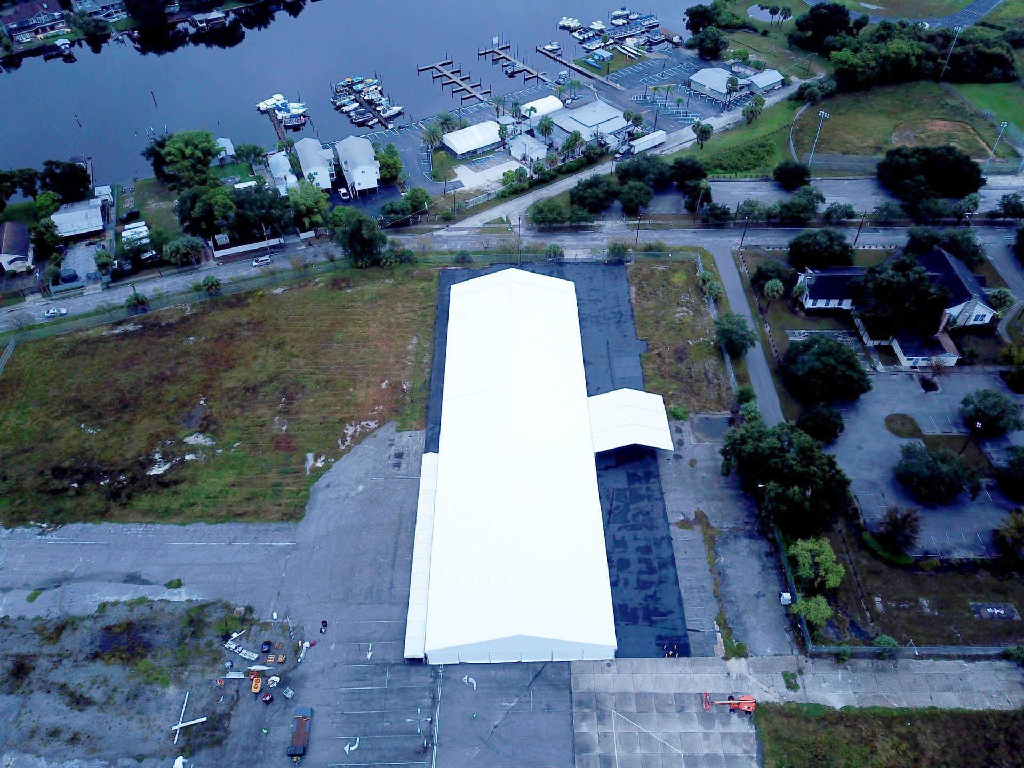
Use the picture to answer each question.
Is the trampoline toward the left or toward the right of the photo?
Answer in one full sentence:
The trampoline is on the left side of the image.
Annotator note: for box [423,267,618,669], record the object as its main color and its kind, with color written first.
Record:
white tent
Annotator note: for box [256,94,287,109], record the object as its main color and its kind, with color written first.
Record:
white boat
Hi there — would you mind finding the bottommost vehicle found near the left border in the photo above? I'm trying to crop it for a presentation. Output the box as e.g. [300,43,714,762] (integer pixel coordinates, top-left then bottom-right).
[44,306,68,318]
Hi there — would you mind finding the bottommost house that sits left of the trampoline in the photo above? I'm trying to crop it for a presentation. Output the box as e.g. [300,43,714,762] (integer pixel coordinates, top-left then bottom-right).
[0,212,54,276]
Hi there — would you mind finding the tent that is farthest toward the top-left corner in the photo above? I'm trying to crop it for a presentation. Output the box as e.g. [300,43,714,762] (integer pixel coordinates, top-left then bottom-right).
[437,120,503,164]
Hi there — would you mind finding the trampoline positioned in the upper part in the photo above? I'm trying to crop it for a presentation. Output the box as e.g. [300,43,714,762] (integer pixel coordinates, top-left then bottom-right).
[53,263,78,284]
